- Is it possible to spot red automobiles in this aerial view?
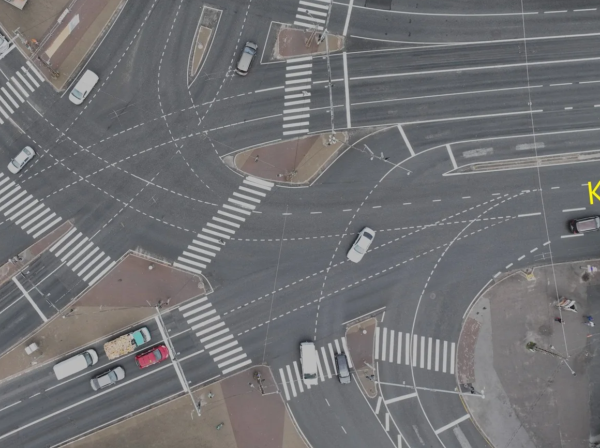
Yes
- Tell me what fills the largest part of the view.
paved ground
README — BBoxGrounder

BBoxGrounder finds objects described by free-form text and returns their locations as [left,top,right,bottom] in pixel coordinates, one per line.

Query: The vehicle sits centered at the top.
[236,41,258,77]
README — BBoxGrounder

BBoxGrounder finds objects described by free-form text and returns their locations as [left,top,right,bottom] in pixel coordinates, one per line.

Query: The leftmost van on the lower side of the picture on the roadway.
[52,349,98,383]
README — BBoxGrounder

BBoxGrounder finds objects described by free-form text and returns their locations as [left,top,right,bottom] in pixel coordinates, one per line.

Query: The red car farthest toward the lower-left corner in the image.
[134,347,170,371]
